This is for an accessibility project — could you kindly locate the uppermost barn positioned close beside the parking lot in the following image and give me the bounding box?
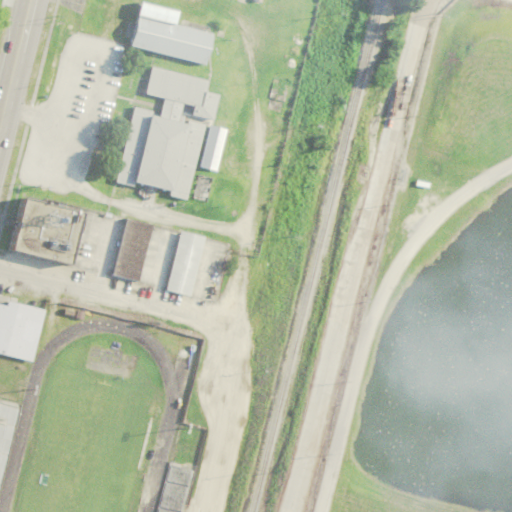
[132,1,215,65]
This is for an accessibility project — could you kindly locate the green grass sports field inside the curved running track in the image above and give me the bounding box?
[12,336,164,512]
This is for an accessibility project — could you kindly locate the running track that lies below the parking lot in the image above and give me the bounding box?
[0,320,182,512]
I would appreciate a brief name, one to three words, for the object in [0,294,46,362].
building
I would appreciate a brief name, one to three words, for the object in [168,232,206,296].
shed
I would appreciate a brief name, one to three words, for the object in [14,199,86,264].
building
